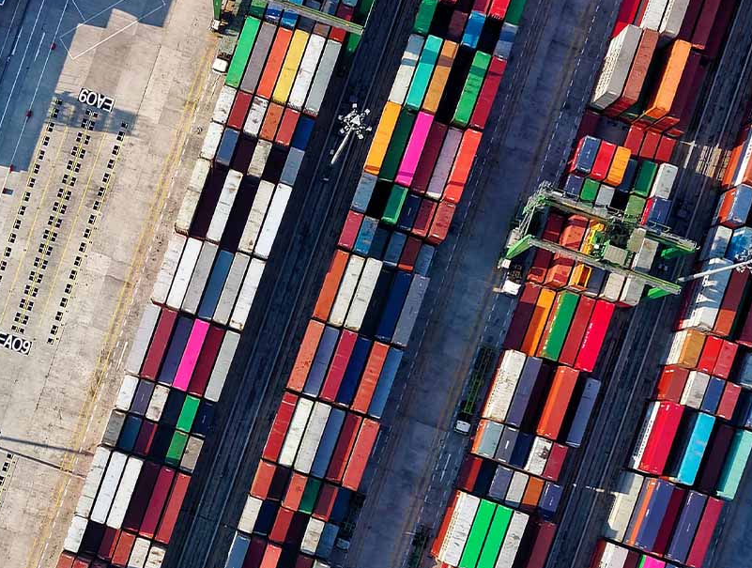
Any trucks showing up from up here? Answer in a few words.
Yes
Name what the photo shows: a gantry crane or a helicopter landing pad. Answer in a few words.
gantry crane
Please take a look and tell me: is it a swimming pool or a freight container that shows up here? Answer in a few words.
freight container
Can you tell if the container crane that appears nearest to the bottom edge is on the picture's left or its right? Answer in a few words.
right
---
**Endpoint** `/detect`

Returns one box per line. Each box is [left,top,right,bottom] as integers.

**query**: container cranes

[494,181,710,308]
[254,0,380,73]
